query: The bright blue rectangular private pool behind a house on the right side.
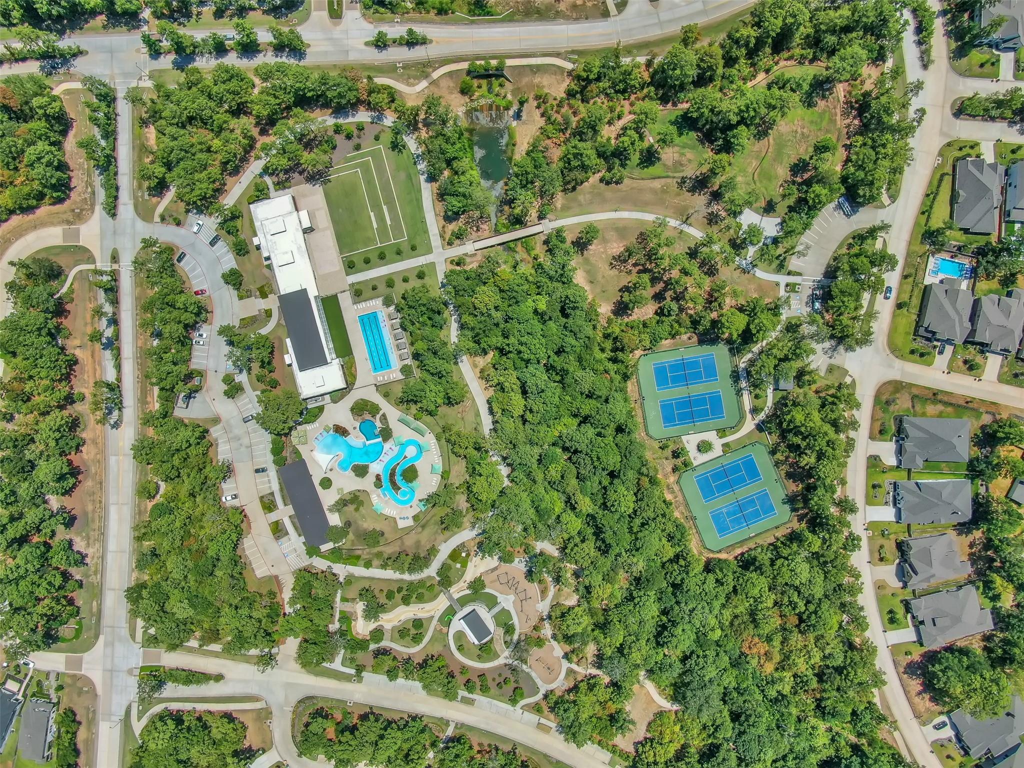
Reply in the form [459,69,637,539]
[928,257,971,278]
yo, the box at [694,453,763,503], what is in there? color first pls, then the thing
blue tennis court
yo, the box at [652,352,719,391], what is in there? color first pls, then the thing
blue tennis court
